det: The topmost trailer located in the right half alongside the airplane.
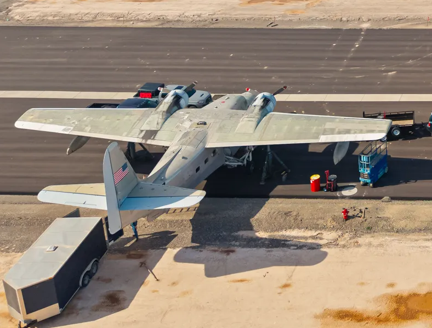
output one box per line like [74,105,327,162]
[362,106,429,135]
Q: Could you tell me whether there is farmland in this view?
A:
No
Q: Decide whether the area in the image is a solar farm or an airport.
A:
airport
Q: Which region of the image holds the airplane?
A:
center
